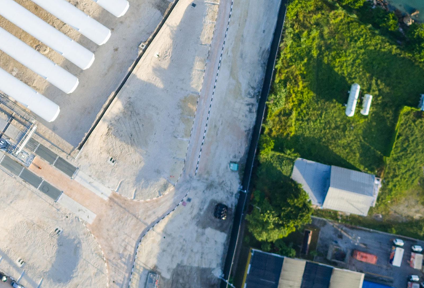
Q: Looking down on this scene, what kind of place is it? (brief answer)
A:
industrial area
